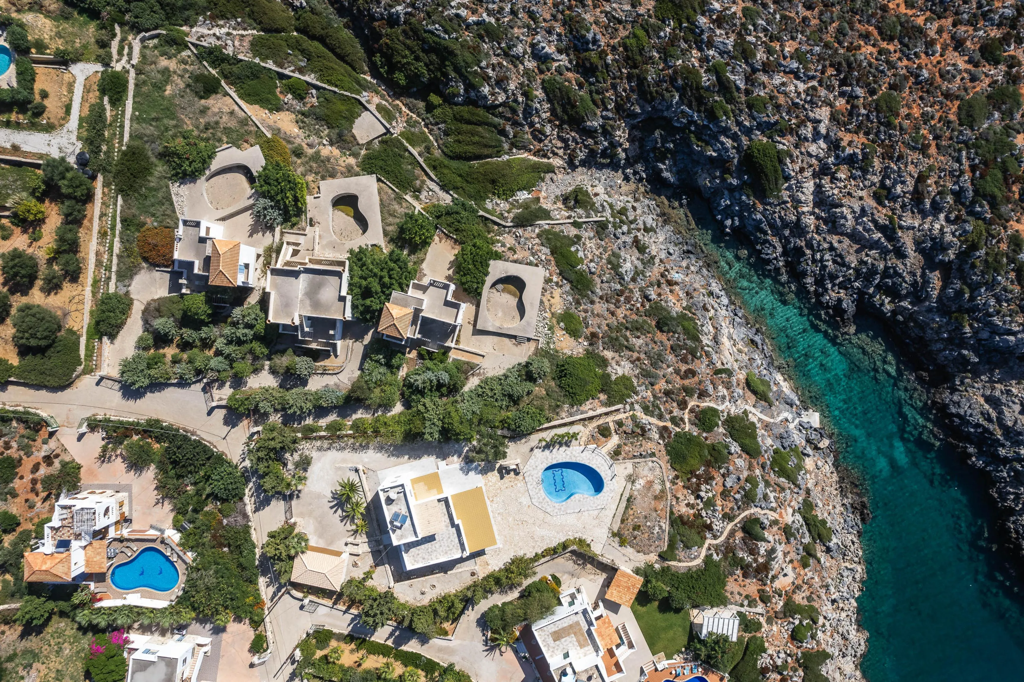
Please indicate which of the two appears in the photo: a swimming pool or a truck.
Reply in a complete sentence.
The one in the frame is a swimming pool.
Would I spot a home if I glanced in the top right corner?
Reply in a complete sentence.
No, there is no home in the top right corner.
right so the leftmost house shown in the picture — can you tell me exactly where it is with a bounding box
[22,487,133,590]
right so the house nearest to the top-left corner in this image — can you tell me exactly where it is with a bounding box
[174,218,258,295]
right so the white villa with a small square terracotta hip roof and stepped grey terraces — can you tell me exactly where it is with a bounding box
[377,278,464,352]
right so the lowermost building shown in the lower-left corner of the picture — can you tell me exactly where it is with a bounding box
[126,628,219,682]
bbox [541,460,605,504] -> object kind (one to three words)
swimming pool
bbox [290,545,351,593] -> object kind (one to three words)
building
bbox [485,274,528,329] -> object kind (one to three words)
swimming pool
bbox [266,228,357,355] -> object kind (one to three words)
house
